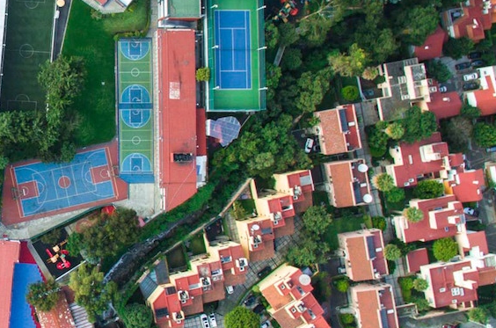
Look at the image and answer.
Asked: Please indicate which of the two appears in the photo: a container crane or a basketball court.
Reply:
basketball court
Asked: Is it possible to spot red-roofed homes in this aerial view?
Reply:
Yes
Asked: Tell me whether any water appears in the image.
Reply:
No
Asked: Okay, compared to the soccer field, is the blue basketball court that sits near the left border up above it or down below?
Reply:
below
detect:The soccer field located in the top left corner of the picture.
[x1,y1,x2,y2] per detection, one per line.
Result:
[0,0,57,112]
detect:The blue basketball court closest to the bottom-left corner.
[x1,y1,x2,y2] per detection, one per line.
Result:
[1,139,130,228]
